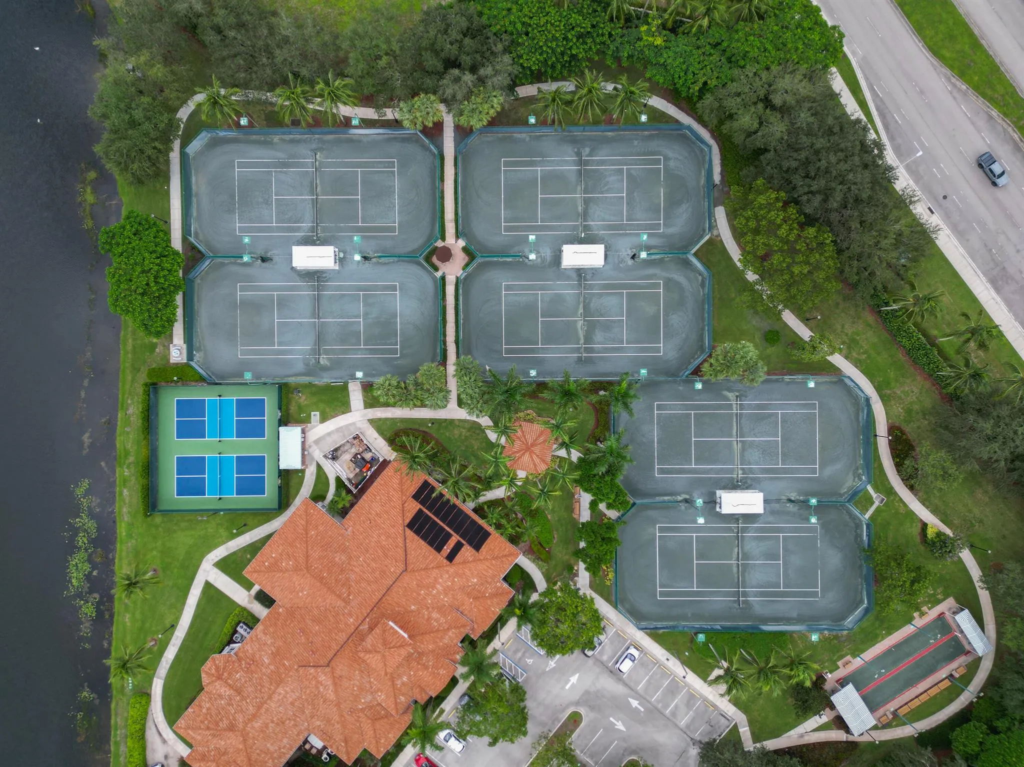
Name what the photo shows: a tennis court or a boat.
tennis court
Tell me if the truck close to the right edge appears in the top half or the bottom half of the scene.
top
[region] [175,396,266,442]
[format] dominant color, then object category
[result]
blue sports court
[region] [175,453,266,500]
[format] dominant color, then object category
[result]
blue sports court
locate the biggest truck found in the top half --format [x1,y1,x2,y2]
[974,152,1006,188]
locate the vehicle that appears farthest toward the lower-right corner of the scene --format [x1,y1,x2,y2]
[614,645,639,674]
